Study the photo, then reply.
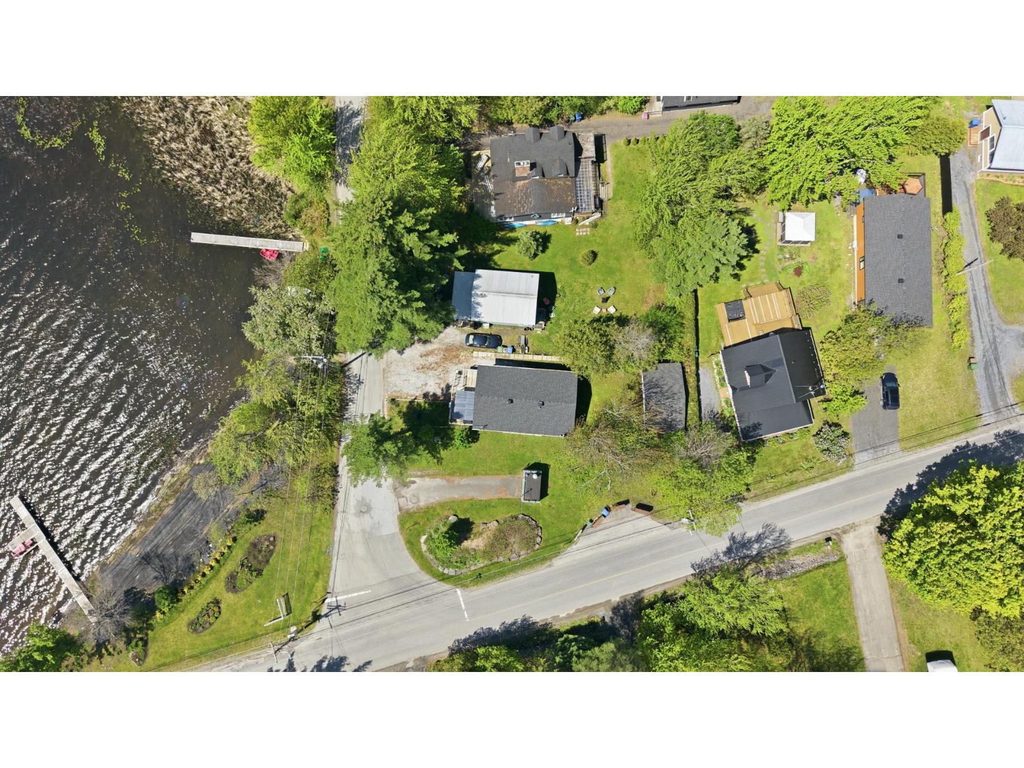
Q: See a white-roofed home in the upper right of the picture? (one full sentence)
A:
Yes, a white-roofed home can be seen in the upper right of the picture.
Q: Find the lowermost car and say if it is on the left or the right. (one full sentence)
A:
The lowermost car is on the right side of the image.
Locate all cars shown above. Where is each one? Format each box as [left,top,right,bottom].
[465,331,503,349]
[879,373,901,409]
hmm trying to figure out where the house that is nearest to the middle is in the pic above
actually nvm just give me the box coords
[472,364,577,437]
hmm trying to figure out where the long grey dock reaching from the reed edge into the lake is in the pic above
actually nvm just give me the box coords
[191,233,304,251]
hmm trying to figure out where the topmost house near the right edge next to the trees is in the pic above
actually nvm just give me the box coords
[978,100,1024,180]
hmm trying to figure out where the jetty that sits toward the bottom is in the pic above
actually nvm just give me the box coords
[6,496,100,622]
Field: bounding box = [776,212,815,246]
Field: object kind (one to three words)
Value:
gazebo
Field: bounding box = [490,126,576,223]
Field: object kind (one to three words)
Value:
house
